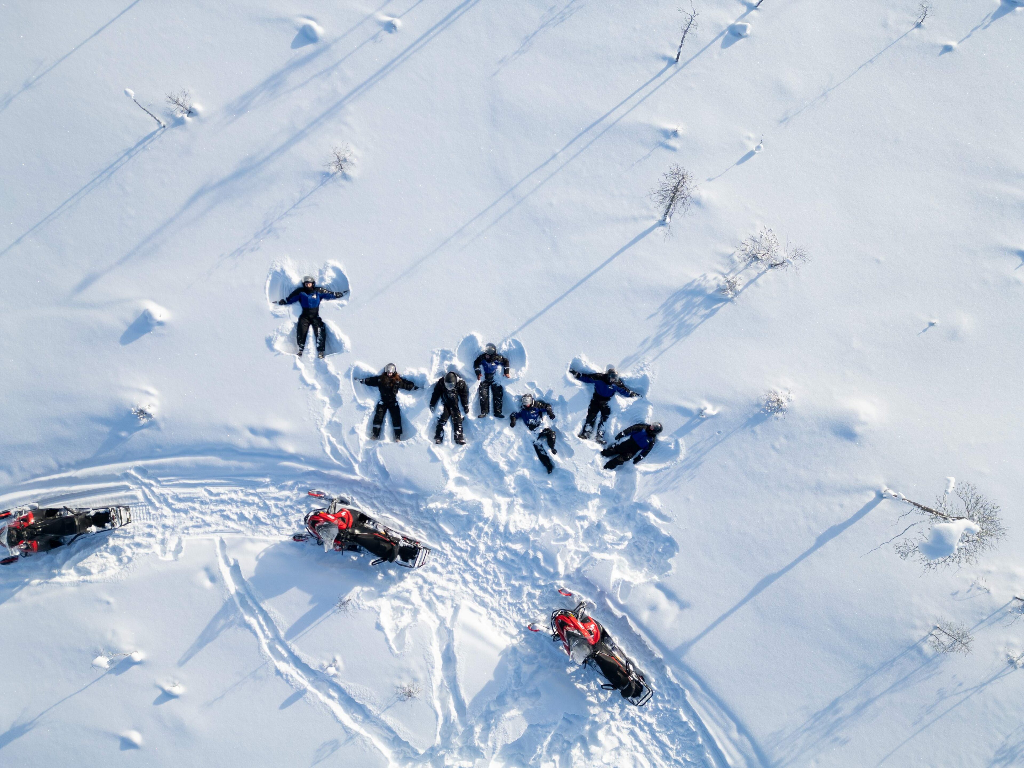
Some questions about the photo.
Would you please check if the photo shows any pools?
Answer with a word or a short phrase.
No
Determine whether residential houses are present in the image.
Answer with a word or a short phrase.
No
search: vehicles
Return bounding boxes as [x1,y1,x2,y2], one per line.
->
[292,493,430,569]
[0,496,127,556]
[524,594,654,706]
